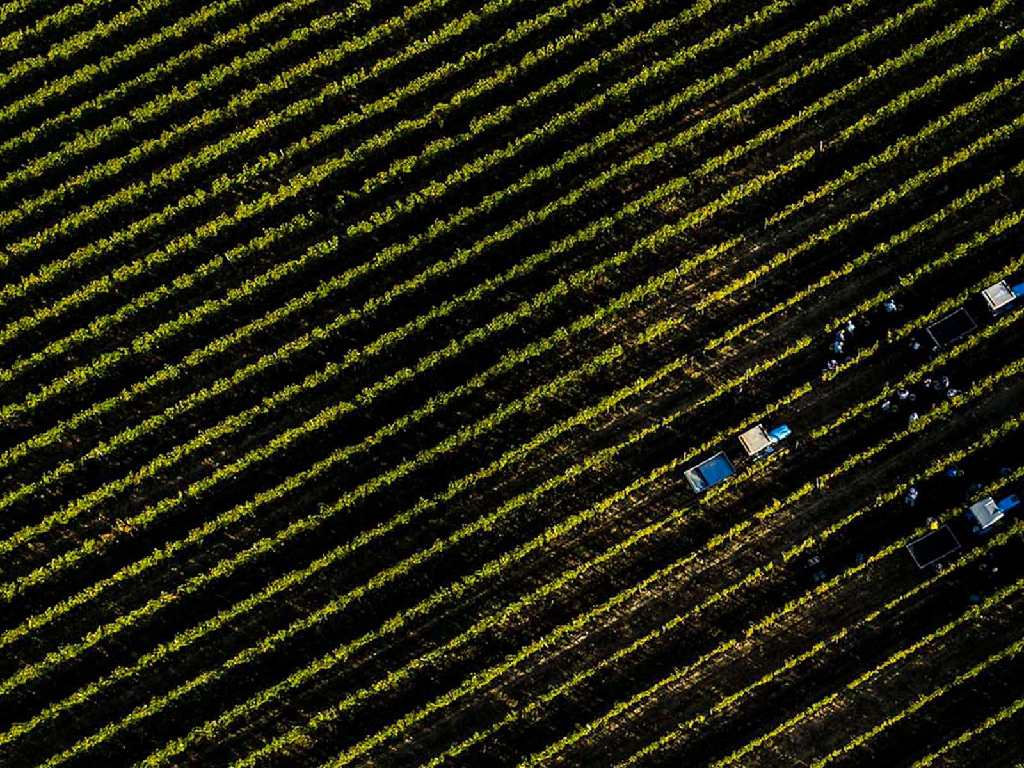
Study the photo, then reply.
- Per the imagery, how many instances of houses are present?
zero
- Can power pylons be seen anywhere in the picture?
No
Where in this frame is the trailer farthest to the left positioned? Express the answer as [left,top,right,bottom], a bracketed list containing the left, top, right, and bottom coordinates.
[683,450,739,496]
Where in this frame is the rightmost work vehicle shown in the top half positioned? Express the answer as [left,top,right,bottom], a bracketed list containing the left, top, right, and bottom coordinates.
[976,281,1024,322]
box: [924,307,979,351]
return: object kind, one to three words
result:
trailer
